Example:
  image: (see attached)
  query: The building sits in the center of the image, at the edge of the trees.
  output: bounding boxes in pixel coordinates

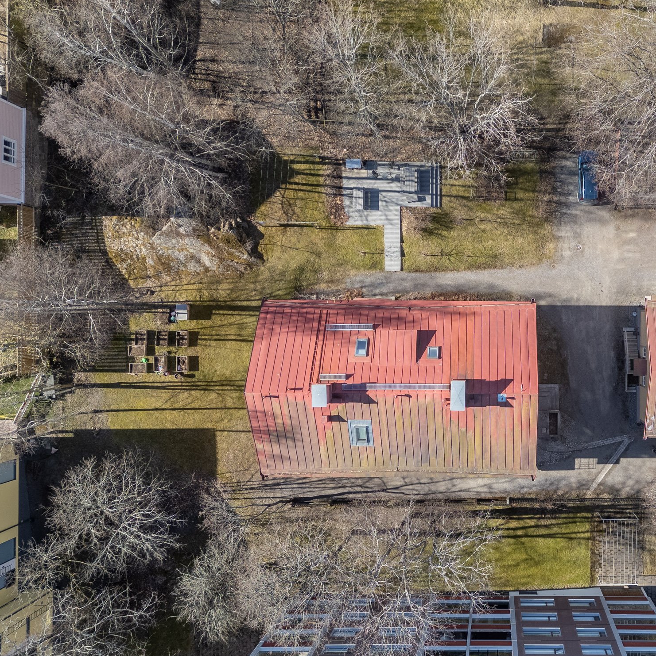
[244,296,540,482]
